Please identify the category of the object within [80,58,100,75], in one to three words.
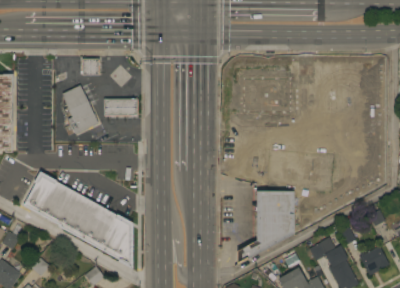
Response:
building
